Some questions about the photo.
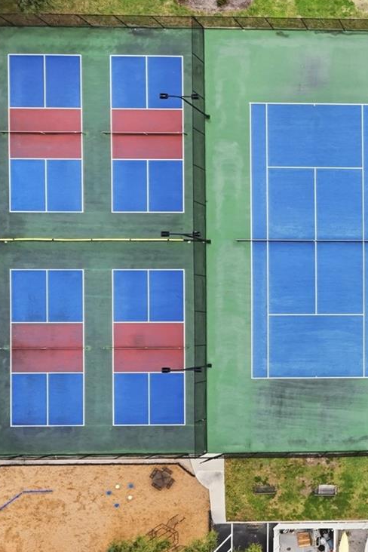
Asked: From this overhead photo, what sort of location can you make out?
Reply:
sports ground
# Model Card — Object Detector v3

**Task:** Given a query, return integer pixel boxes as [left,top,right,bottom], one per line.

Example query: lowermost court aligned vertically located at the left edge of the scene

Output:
[9,269,84,427]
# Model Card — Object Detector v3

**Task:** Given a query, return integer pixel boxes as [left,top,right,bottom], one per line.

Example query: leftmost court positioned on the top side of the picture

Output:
[8,54,83,212]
